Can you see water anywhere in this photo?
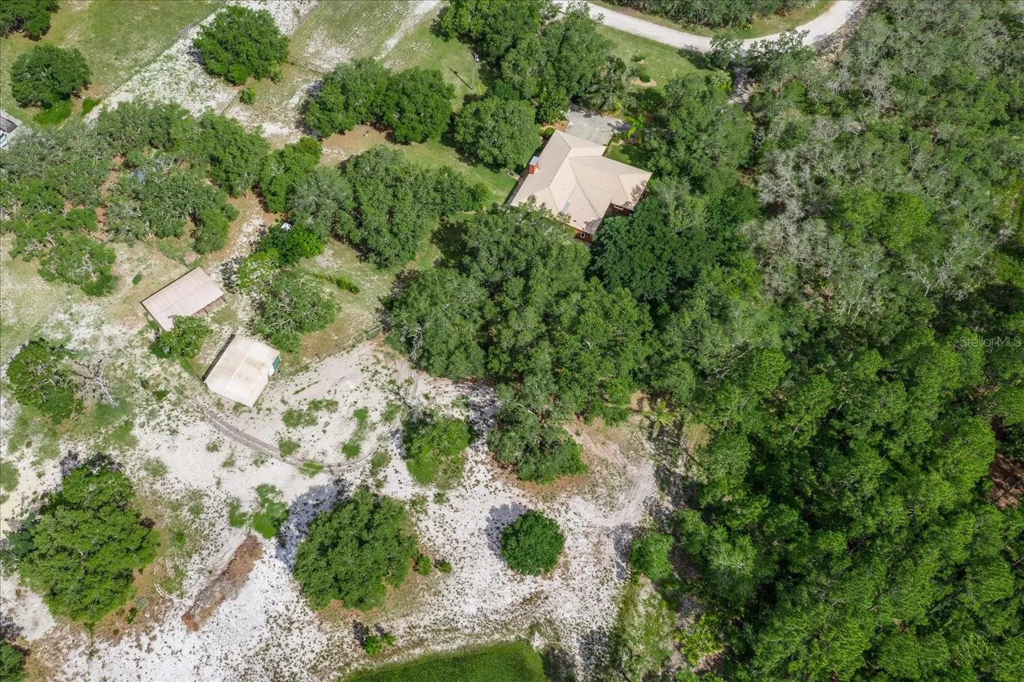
No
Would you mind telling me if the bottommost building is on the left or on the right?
left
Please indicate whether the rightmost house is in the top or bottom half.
top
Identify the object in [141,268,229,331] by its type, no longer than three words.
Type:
shed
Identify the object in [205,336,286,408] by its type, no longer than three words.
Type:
building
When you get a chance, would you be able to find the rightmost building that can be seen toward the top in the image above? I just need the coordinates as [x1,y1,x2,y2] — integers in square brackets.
[509,129,653,250]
